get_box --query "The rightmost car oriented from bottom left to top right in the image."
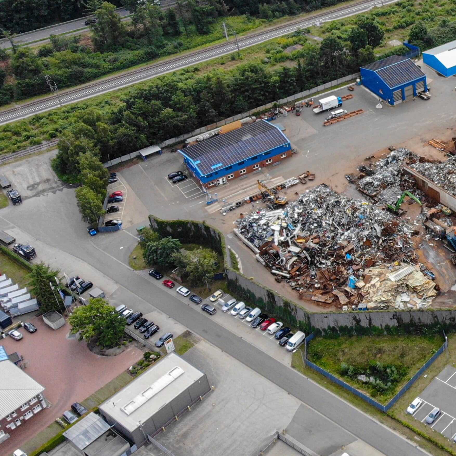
[425,406,443,426]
